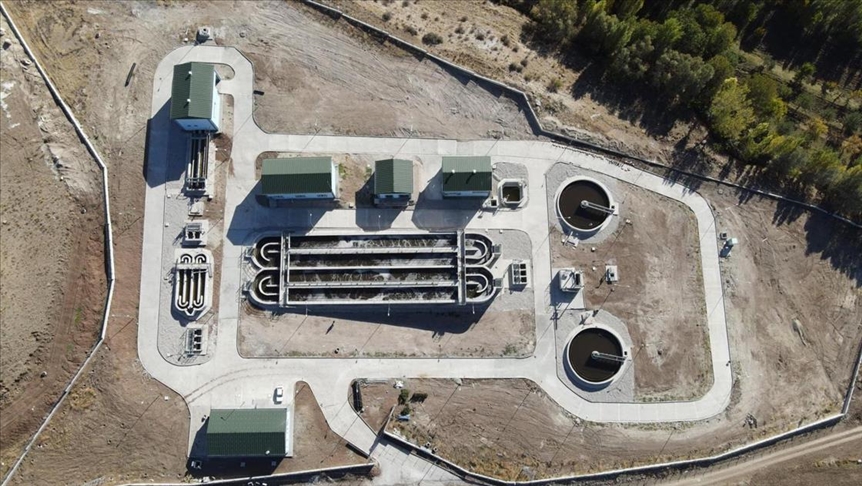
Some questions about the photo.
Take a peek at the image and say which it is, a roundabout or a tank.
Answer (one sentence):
It is a tank that can be seen here.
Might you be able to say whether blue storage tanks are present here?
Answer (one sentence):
No, the frame has no blue storage tank in it.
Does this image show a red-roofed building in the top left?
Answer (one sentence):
No, in the top left there is no red-roofed building.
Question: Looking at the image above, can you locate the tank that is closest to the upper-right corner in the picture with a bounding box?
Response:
[551,179,619,239]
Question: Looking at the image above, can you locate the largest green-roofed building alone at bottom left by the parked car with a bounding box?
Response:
[203,407,291,459]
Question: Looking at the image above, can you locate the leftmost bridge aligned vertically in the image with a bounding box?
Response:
[277,234,292,307]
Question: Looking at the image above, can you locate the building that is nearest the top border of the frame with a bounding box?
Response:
[170,59,225,132]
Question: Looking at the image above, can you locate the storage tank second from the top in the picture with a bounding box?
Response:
[172,248,219,331]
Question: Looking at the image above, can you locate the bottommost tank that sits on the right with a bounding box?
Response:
[561,323,629,390]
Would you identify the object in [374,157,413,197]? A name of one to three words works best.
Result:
building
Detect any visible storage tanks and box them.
[561,323,629,390]
[172,248,219,331]
[551,179,619,239]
